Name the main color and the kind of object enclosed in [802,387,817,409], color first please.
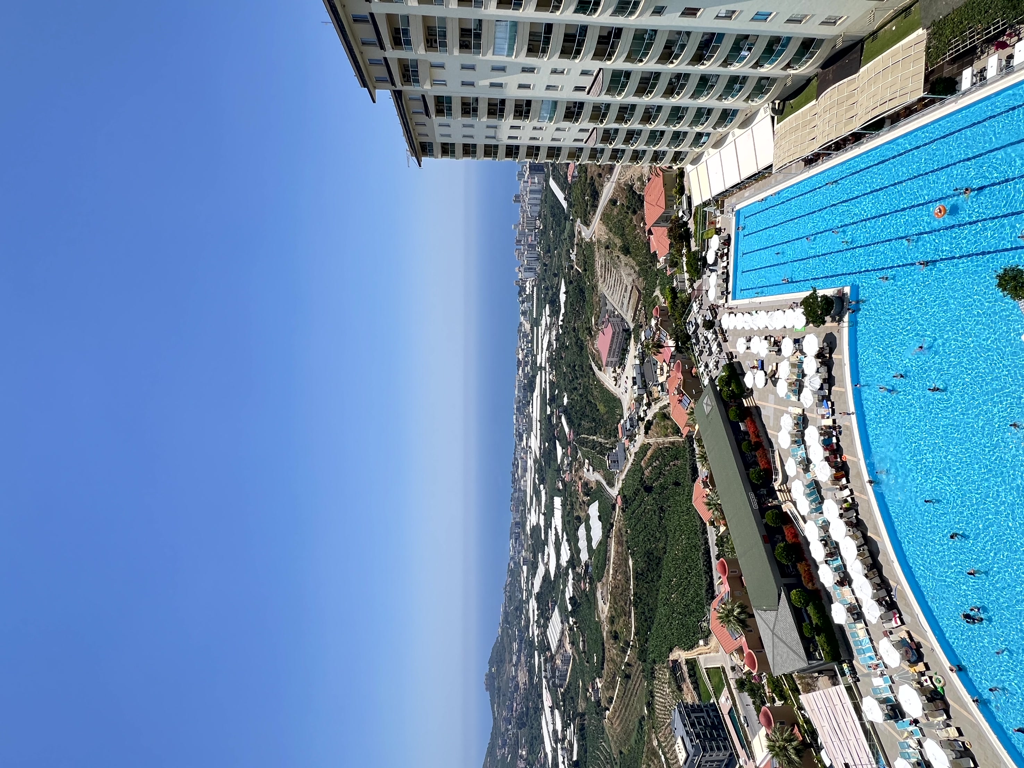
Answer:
white umbrella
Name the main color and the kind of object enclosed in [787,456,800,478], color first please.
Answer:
white umbrella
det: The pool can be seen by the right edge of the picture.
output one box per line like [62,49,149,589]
[733,79,1024,768]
